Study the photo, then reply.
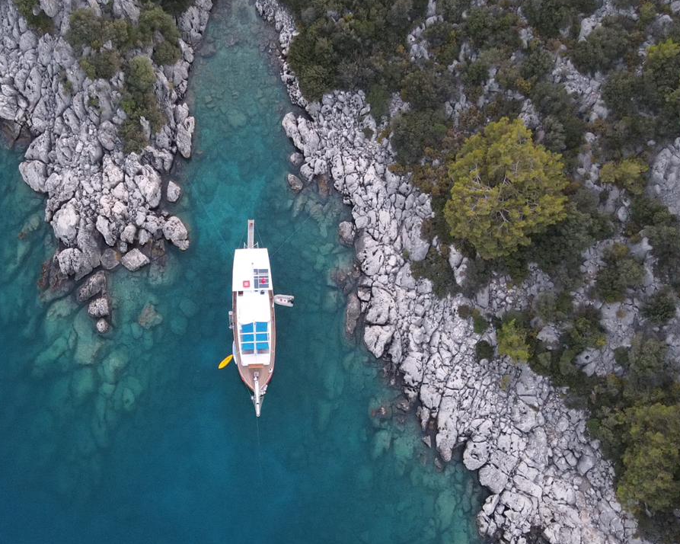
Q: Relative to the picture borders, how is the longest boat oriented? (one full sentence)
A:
The longest boat runs up and down in the image.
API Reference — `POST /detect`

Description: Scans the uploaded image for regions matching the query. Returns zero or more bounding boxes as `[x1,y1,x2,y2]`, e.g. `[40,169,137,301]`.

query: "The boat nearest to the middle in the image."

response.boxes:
[275,294,295,307]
